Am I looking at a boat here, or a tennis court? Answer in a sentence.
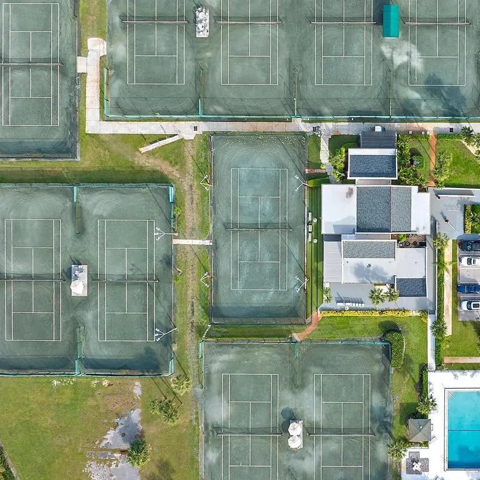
The image shows a tennis court.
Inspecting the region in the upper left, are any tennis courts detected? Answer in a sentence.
Yes, you'll find a tennis court in the upper left.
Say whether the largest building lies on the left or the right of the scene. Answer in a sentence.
The largest building sits on the right side.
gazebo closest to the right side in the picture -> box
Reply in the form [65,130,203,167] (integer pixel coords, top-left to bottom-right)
[408,419,431,443]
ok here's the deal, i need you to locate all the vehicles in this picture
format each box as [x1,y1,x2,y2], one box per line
[460,240,480,251]
[460,256,480,266]
[461,299,480,311]
[456,283,480,293]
